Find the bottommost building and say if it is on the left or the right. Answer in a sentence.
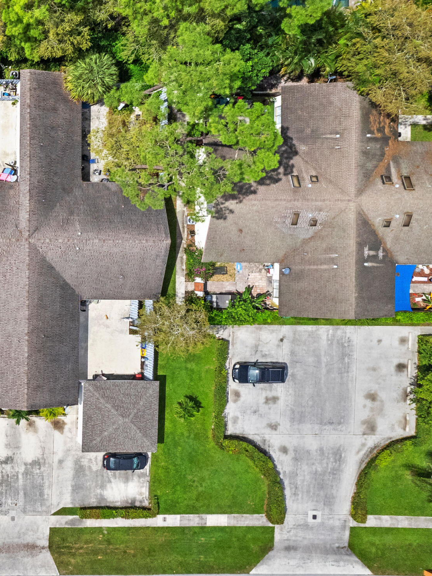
It is on the left.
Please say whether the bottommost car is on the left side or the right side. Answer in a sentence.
It is on the left.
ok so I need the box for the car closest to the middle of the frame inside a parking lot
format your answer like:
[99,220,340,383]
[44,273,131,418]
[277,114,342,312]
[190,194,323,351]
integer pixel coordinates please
[231,360,286,384]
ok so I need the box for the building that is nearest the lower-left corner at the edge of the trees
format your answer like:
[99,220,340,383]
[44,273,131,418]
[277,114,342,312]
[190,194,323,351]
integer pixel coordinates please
[80,381,159,453]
